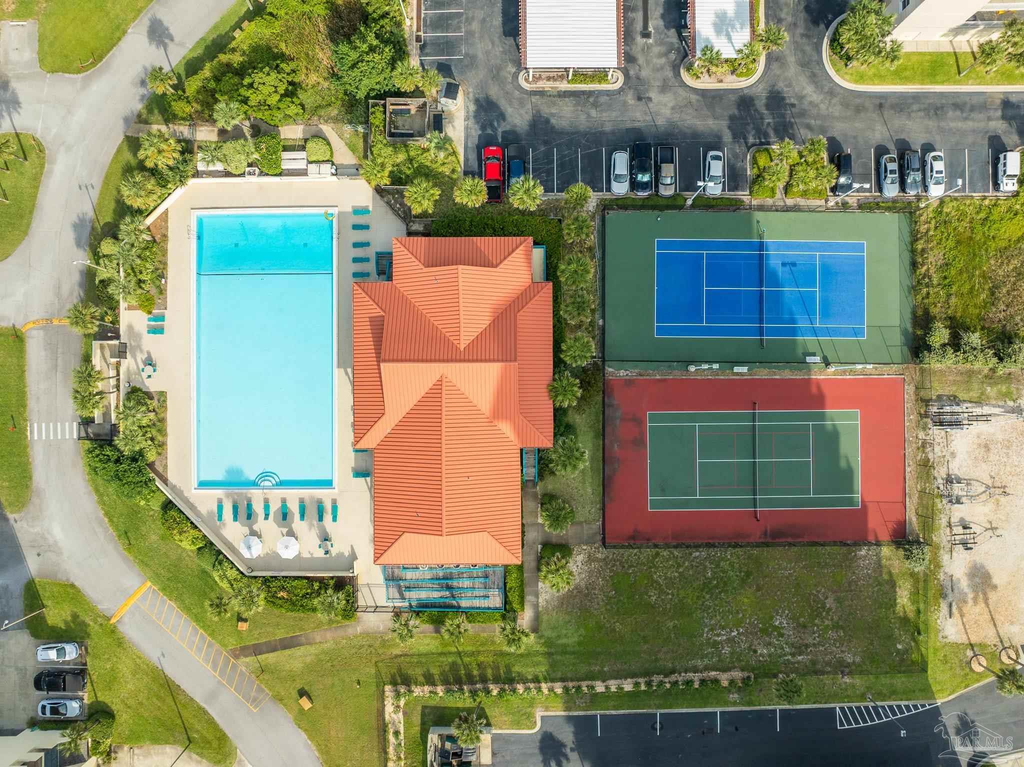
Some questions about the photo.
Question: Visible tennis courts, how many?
2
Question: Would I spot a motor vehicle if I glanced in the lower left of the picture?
Yes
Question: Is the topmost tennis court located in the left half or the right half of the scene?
right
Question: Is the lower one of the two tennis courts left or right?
right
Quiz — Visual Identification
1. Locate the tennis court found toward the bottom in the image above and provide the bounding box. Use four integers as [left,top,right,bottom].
[607,378,905,544]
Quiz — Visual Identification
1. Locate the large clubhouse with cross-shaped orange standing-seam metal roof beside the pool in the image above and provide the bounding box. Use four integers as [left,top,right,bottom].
[353,237,553,565]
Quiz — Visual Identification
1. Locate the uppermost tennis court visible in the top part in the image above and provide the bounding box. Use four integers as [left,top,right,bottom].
[607,210,914,371]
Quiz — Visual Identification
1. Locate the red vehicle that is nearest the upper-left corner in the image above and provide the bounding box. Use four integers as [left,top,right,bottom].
[482,147,504,202]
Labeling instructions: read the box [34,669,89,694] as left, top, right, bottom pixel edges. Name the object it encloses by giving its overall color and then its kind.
black vehicle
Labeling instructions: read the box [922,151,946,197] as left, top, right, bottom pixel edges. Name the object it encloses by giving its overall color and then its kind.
white car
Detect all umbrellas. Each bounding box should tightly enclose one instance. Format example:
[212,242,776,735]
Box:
[241,535,263,558]
[279,535,301,557]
